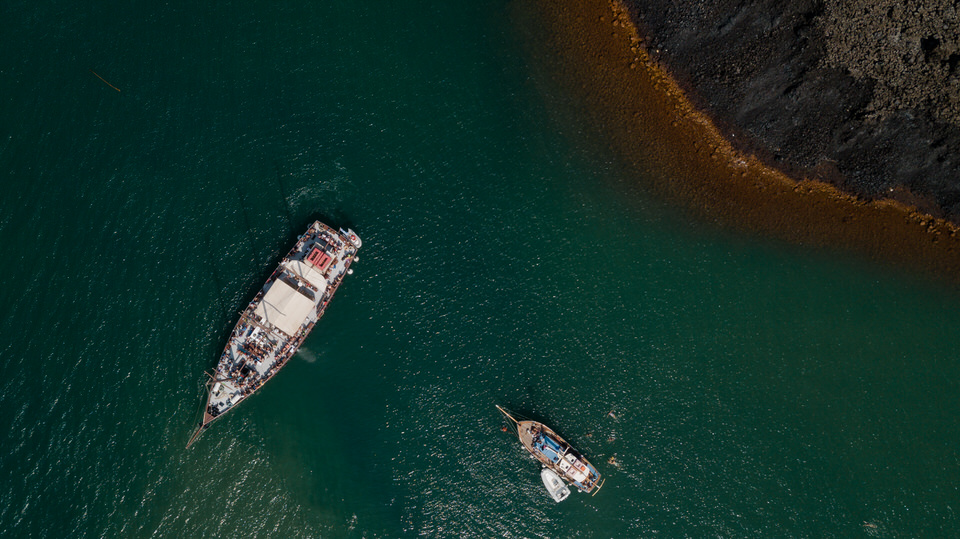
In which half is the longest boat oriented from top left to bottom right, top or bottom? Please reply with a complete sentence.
You can find the longest boat oriented from top left to bottom right in the bottom half.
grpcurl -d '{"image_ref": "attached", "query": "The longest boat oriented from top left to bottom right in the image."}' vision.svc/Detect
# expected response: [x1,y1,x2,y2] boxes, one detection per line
[495,405,606,496]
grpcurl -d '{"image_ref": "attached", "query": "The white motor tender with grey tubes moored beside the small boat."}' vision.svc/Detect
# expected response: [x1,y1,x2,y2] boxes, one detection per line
[541,466,571,502]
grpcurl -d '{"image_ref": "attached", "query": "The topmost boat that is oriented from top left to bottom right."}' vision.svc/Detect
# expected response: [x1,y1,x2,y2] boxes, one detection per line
[343,229,363,247]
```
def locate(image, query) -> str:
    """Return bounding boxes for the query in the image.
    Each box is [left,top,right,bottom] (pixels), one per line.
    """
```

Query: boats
[541,466,571,502]
[183,220,358,449]
[495,405,606,496]
[343,229,363,247]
